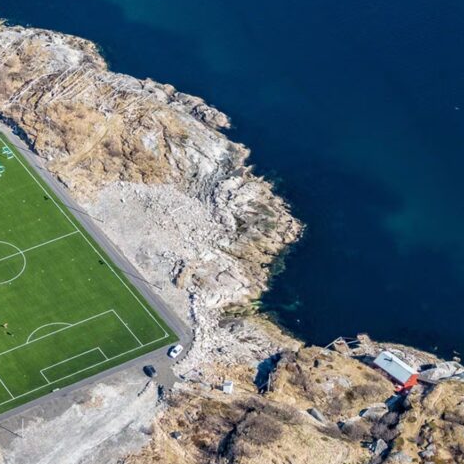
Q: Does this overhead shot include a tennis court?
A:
No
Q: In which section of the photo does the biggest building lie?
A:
bottom right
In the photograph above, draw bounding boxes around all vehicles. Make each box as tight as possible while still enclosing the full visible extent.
[143,364,156,377]
[170,344,183,357]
